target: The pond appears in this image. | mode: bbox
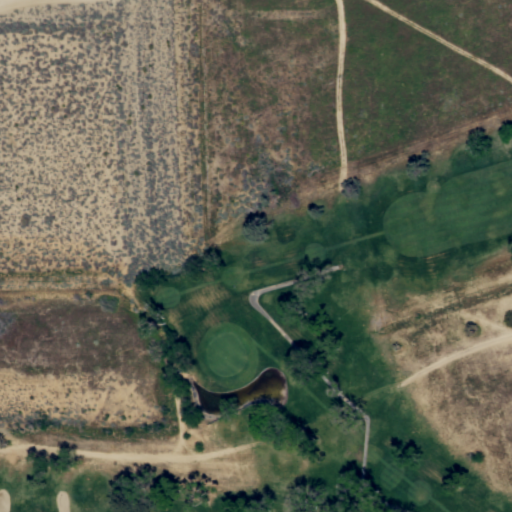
[194,370,285,413]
